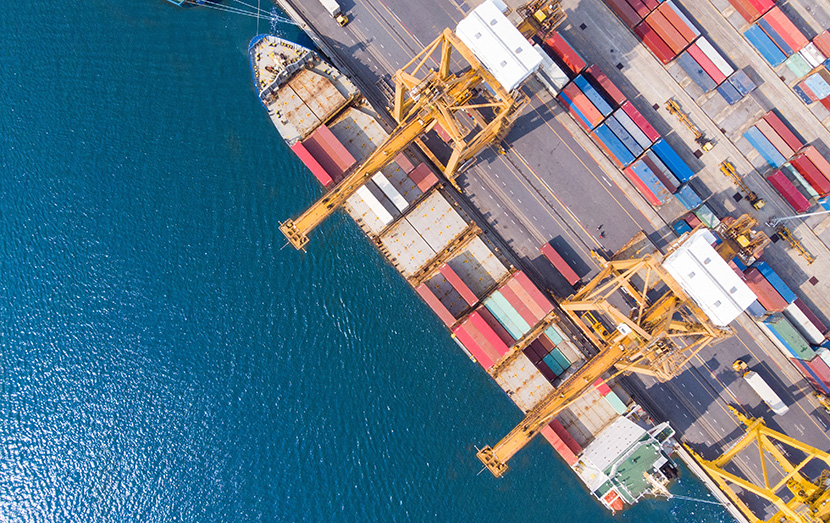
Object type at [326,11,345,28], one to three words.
vehicle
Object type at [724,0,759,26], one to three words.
shipping container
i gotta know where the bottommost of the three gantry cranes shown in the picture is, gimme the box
[682,402,830,523]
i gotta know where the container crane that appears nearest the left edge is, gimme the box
[270,0,571,260]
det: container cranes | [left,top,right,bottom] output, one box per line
[469,209,772,485]
[682,402,830,523]
[270,0,571,260]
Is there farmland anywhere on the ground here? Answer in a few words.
No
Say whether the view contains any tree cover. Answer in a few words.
No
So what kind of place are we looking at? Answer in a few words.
port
